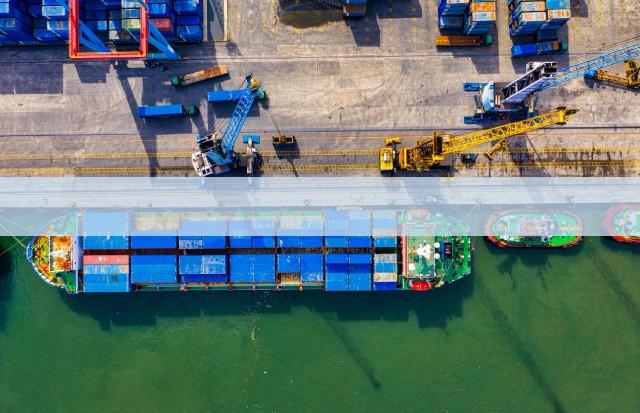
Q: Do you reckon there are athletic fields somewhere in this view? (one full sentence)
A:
No, no athletic field is visible in the scene.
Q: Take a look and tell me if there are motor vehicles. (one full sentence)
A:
Yes, a motor vehicle appears in the view.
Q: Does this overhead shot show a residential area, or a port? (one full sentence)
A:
This looks like a port.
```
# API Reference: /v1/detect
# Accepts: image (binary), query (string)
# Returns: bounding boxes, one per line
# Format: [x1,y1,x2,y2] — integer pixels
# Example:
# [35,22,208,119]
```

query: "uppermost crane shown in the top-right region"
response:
[463,40,640,125]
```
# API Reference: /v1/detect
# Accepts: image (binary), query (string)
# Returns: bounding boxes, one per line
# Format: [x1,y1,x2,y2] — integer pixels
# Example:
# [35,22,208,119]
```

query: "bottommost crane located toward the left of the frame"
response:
[191,73,269,181]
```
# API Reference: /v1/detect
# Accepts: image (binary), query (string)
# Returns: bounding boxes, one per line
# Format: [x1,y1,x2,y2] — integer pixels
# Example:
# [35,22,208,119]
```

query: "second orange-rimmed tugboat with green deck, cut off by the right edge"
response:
[602,204,640,246]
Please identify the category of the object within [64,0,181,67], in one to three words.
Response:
container crane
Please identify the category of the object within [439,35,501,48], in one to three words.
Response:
vehicle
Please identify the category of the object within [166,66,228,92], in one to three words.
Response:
truck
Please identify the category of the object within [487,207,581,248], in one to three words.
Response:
boat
